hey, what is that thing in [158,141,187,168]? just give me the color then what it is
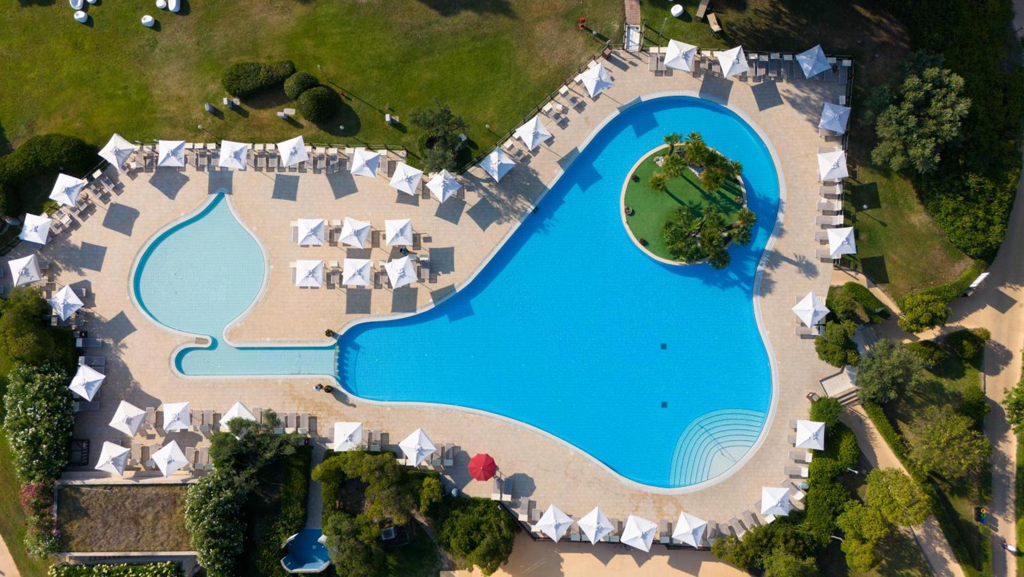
white umbrella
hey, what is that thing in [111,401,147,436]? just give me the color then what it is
white umbrella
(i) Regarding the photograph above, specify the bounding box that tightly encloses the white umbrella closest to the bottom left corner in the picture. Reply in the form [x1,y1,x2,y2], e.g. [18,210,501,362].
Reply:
[98,441,132,475]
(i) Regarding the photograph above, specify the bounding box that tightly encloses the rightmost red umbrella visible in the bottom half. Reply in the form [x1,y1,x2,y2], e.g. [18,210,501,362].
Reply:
[468,452,497,481]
